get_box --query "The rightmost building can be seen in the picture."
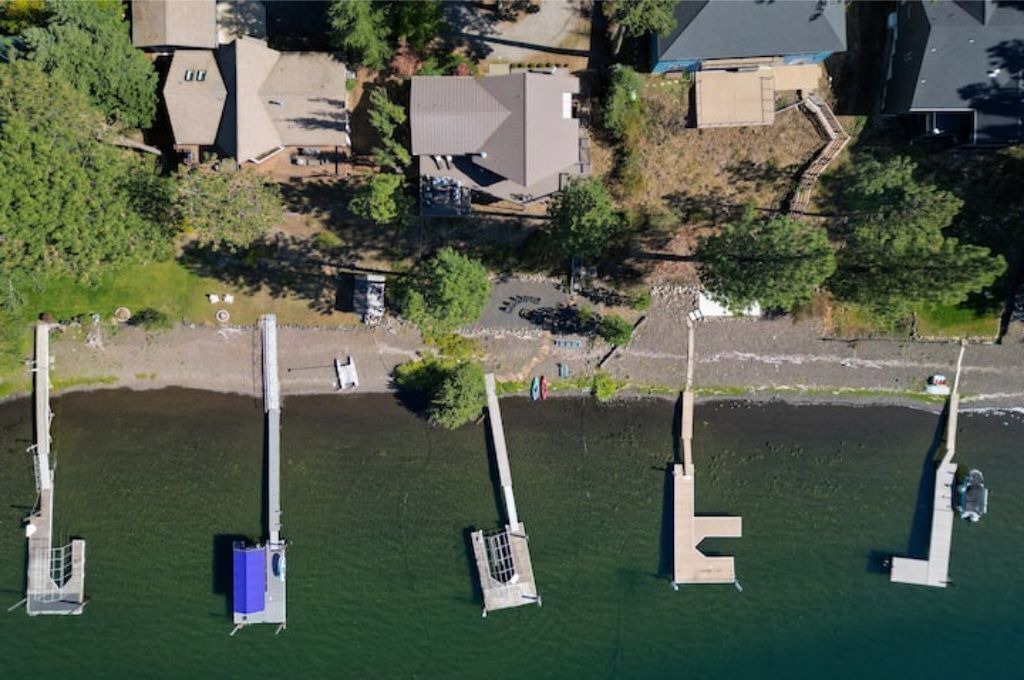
[883,0,1024,150]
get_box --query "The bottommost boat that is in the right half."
[955,468,989,525]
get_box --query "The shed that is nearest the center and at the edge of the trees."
[353,277,388,312]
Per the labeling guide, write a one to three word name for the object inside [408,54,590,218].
house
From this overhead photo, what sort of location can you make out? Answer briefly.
residential area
